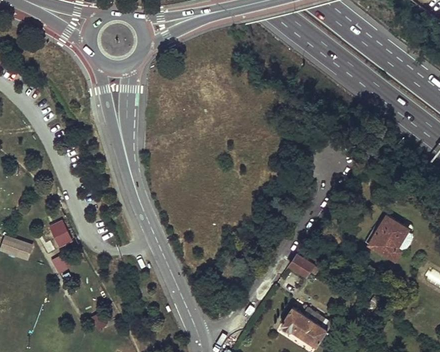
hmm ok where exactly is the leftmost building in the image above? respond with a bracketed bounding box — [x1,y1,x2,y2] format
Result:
[0,236,34,260]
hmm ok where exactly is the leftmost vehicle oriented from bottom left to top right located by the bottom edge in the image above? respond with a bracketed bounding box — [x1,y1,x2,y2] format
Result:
[213,332,228,352]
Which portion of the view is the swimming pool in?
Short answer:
bottom right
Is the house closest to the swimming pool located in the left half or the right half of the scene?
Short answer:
right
